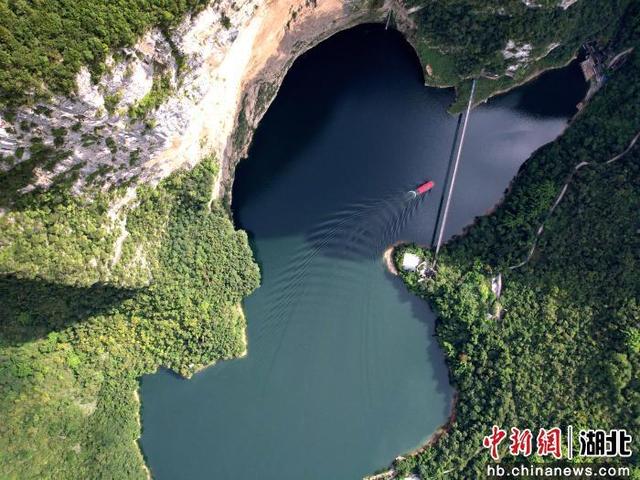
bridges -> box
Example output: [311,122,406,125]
[433,77,478,265]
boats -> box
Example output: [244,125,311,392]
[415,181,436,194]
